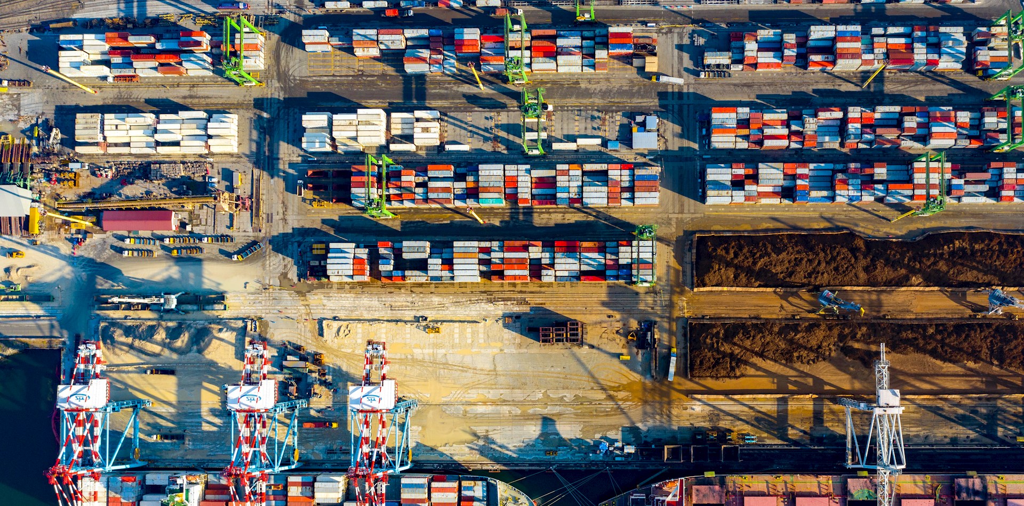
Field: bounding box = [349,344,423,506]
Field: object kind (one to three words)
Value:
container crane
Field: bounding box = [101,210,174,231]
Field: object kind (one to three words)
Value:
shed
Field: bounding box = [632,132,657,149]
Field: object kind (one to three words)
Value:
shed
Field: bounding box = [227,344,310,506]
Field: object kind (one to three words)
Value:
container crane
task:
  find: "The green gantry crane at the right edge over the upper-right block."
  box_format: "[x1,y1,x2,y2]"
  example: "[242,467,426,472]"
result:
[985,8,1024,79]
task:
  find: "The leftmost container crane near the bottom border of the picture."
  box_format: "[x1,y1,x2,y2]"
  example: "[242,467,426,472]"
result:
[52,343,154,506]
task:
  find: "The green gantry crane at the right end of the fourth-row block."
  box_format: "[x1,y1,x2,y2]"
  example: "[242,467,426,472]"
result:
[630,223,660,287]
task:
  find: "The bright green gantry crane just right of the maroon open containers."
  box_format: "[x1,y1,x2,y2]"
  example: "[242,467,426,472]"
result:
[364,154,400,216]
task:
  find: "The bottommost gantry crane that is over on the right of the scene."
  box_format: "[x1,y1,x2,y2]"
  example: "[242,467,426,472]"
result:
[836,344,907,506]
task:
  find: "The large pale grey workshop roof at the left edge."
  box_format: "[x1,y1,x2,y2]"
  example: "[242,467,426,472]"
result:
[0,184,38,218]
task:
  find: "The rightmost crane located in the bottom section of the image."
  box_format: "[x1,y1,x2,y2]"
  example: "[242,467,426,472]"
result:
[984,291,1024,320]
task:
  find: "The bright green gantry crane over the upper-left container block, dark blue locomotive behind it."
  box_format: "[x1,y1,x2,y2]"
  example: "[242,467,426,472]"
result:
[223,15,264,81]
